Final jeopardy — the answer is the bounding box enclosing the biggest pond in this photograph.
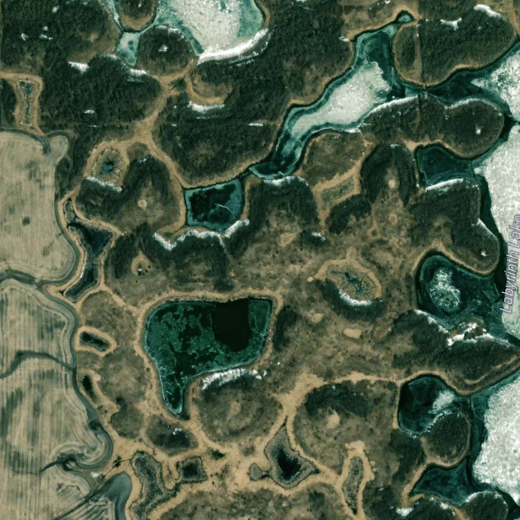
[144,298,272,415]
